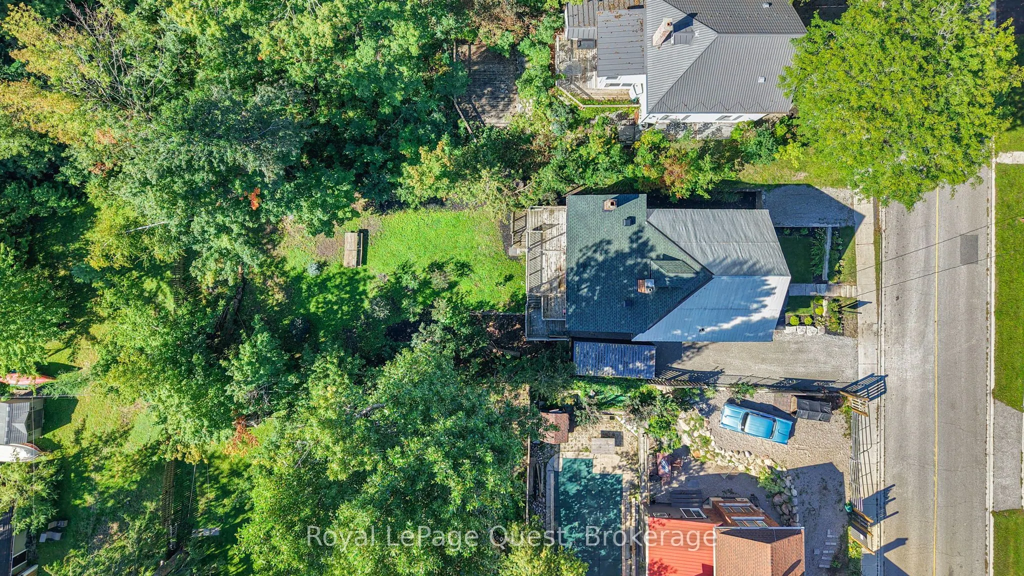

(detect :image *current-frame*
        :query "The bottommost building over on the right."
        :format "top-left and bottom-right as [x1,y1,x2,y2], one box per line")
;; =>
[644,491,806,576]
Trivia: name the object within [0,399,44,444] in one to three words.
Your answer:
shed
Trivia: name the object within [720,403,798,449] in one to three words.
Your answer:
car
